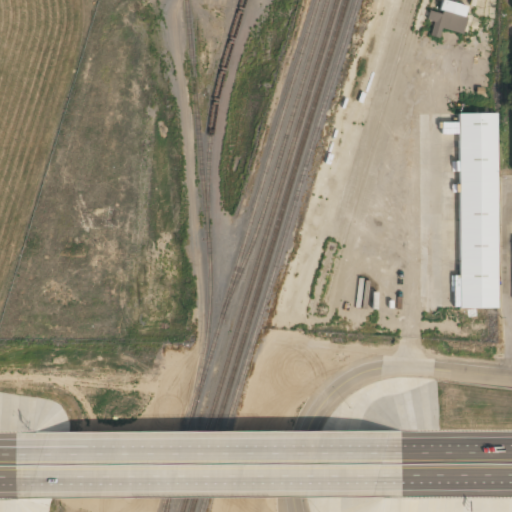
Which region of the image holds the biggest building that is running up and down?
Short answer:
right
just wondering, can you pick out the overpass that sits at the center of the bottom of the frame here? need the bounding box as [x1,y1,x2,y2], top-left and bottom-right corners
[17,431,402,498]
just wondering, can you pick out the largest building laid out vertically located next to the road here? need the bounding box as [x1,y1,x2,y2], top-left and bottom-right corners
[440,113,500,308]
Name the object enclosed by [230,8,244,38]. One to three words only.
rail car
